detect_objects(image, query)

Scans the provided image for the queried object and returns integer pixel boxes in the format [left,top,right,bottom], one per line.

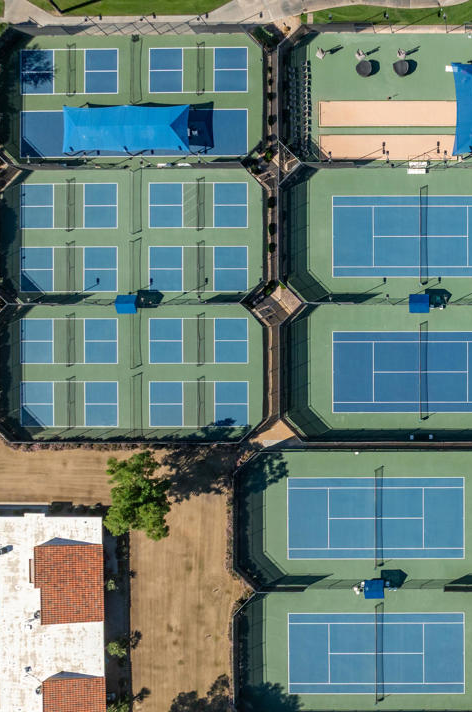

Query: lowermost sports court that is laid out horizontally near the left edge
[21,382,118,427]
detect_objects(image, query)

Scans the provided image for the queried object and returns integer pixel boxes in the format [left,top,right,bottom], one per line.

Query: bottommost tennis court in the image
[240,585,472,712]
